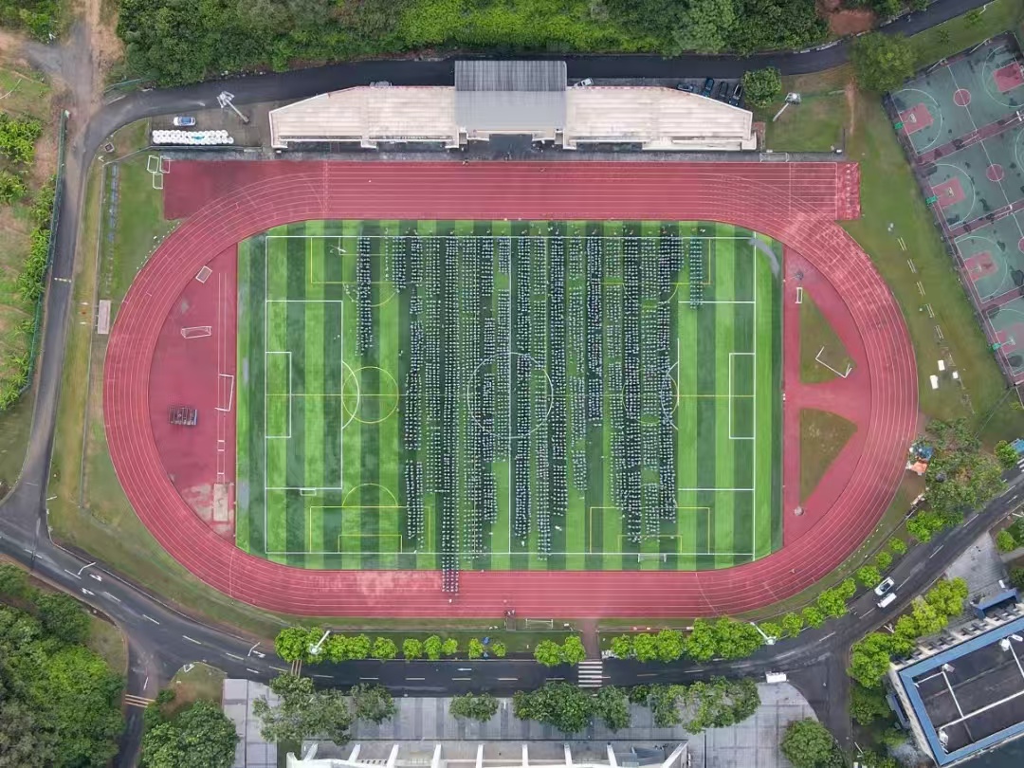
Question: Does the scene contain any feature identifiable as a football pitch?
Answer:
Yes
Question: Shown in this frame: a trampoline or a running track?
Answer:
running track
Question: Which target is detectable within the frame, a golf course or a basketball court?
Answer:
basketball court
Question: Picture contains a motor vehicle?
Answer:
Yes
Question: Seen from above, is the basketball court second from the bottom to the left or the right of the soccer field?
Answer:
to the right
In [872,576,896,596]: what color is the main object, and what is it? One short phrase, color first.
white car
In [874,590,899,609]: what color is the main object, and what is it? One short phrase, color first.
white vehicle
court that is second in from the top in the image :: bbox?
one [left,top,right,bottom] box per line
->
[917,122,1024,241]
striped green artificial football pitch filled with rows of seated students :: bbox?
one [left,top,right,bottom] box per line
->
[235,221,783,570]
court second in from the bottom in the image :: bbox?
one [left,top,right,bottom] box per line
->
[949,210,1024,316]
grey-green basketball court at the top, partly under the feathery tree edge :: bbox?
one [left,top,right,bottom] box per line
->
[882,33,1024,168]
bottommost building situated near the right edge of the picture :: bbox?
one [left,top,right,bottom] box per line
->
[884,601,1024,768]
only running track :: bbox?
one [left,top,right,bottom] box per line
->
[101,160,918,619]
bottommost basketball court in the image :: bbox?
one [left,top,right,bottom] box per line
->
[982,298,1024,390]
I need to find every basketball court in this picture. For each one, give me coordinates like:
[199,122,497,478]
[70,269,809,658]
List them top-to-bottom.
[882,33,1024,168]
[917,122,1024,241]
[949,210,1024,316]
[982,298,1024,390]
